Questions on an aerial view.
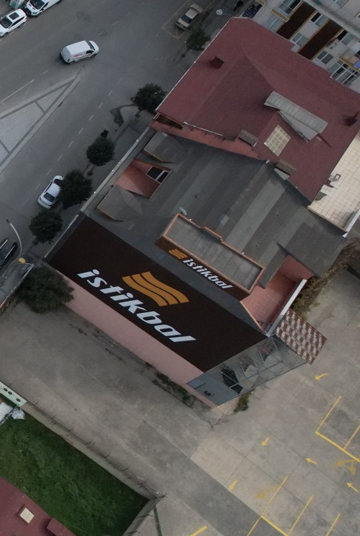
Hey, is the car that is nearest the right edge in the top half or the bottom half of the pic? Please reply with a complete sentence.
Seen from above, the car that is nearest the right edge lies in the top half of the view.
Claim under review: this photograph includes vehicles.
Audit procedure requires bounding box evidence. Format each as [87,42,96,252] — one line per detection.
[0,6,30,38]
[0,235,20,273]
[36,174,64,212]
[24,0,60,17]
[58,38,102,66]
[172,0,206,31]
